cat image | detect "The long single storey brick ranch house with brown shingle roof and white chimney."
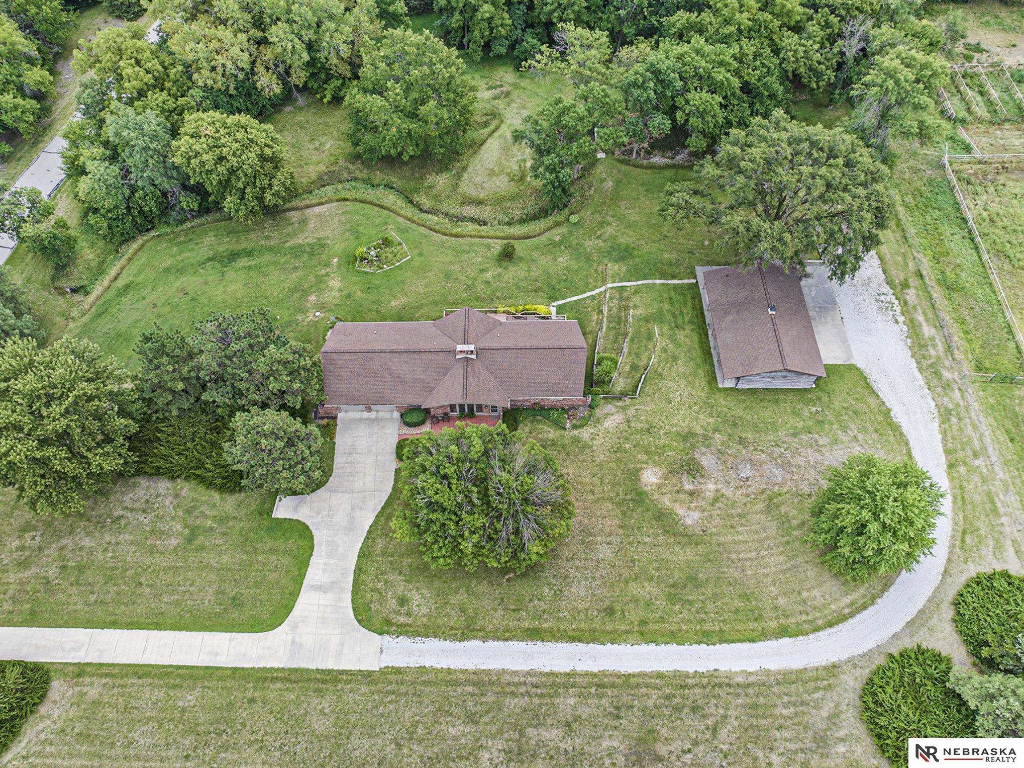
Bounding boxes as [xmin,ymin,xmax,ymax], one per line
[322,306,592,417]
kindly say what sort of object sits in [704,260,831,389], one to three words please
barn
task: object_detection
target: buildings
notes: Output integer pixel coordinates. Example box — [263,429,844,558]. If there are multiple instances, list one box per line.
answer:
[704,260,831,389]
[322,306,592,417]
